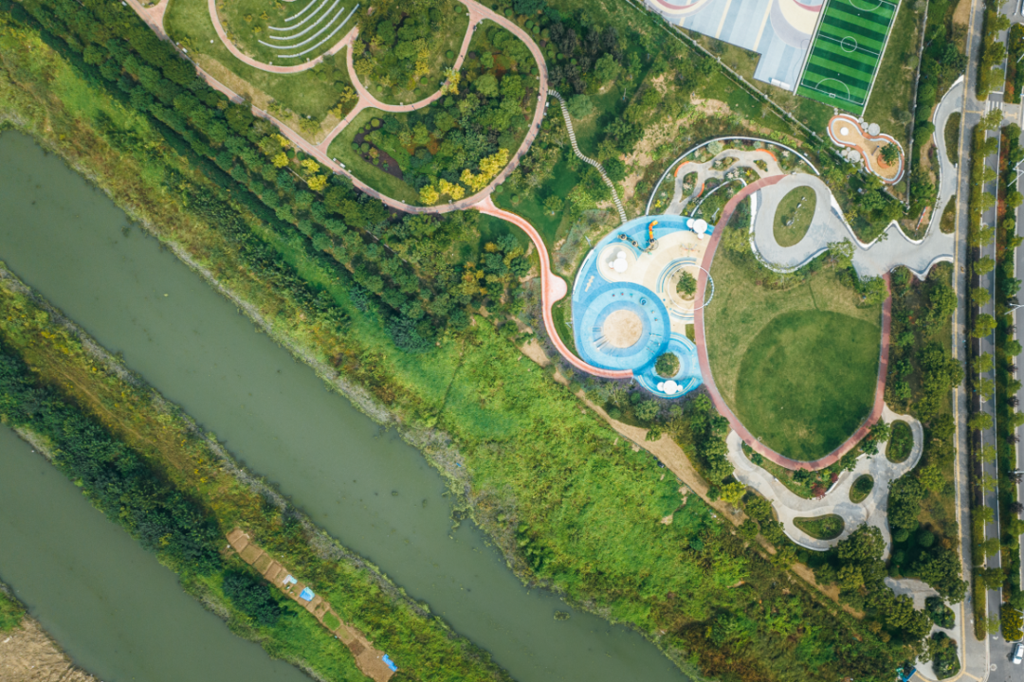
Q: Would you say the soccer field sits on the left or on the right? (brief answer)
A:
right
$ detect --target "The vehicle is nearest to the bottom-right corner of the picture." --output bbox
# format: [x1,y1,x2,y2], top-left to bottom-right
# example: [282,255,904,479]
[1010,643,1023,664]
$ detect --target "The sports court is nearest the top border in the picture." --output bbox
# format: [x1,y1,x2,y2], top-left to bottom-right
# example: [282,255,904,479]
[646,0,826,91]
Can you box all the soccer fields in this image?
[792,0,900,118]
